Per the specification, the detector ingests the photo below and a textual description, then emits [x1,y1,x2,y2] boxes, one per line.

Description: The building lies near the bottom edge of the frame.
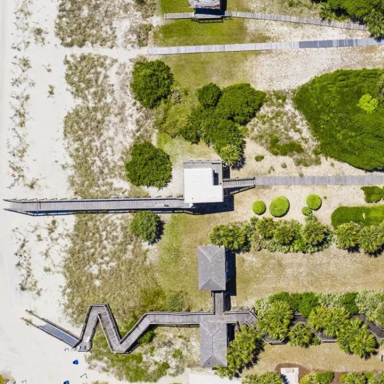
[200,319,231,368]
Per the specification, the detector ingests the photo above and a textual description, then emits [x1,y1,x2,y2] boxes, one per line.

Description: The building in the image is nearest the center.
[181,160,232,203]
